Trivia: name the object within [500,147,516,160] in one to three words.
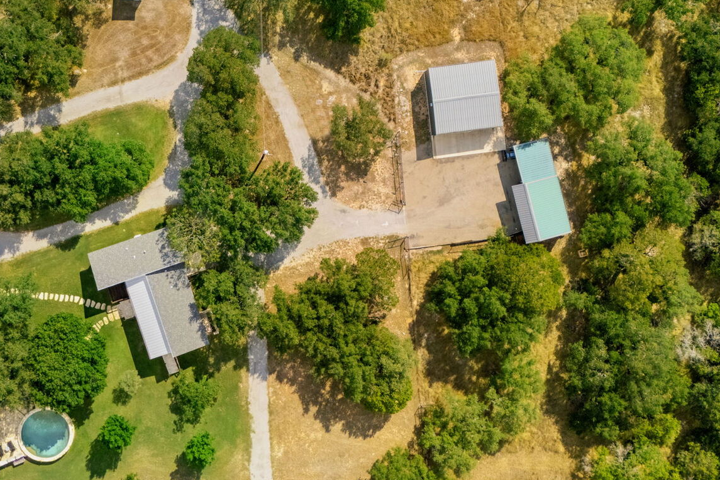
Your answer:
vehicle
